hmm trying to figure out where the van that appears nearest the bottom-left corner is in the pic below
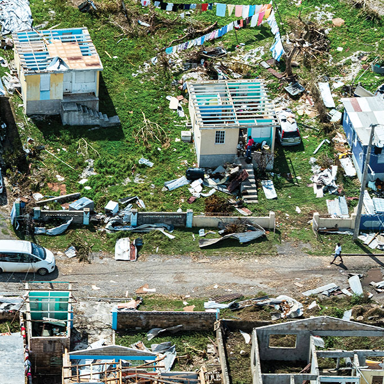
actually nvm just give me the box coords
[0,239,57,276]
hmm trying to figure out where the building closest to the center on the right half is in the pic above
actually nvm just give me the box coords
[191,77,282,203]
